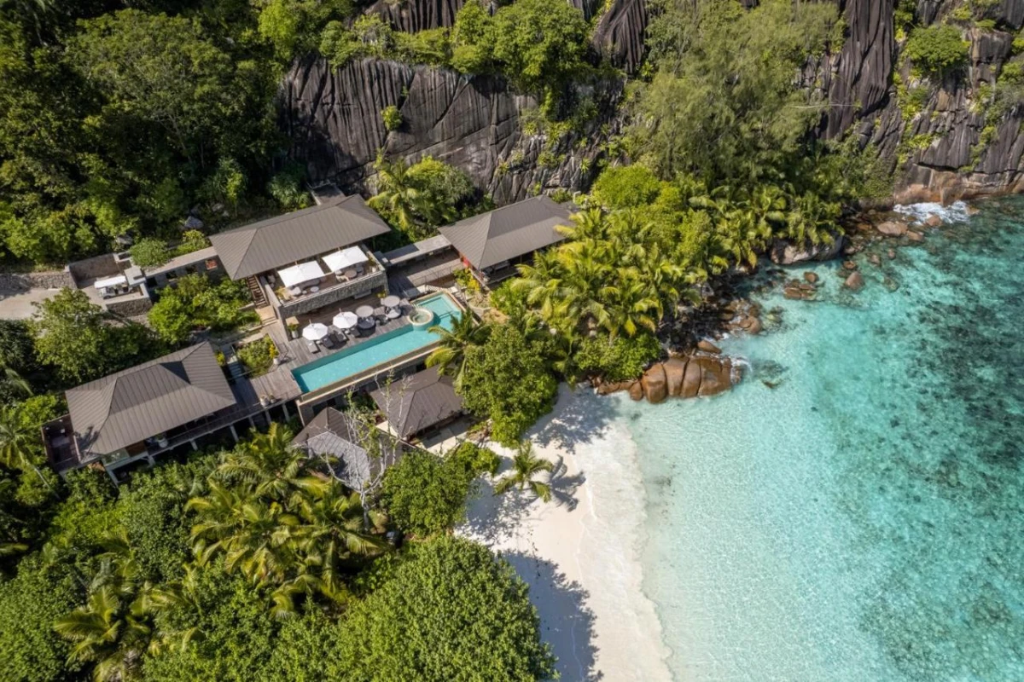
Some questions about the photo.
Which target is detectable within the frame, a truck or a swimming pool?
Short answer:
swimming pool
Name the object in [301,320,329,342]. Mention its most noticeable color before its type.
white umbrella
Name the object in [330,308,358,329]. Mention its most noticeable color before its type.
white umbrella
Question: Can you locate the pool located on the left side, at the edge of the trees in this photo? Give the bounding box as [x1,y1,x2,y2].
[288,292,480,424]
